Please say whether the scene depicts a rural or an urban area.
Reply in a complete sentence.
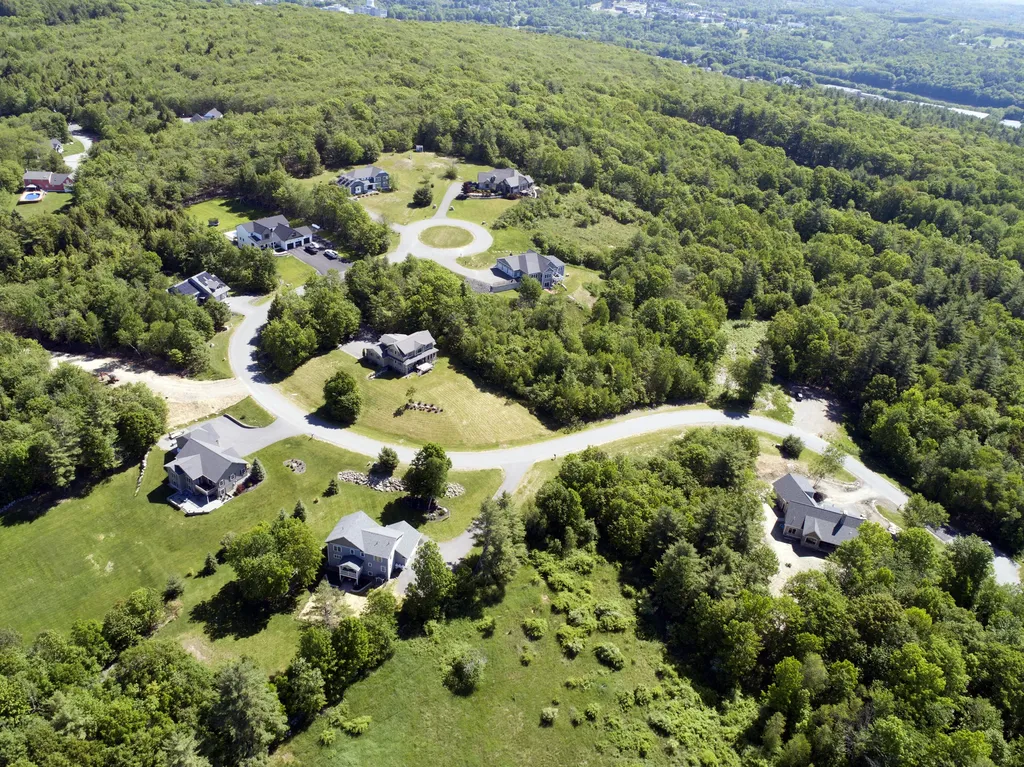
The area is rural.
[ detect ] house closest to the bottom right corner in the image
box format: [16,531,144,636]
[768,472,870,572]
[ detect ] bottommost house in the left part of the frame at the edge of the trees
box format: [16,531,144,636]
[322,510,436,595]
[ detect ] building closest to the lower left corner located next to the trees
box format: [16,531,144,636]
[163,425,257,524]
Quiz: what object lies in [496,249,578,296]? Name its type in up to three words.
house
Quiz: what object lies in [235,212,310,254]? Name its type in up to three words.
house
